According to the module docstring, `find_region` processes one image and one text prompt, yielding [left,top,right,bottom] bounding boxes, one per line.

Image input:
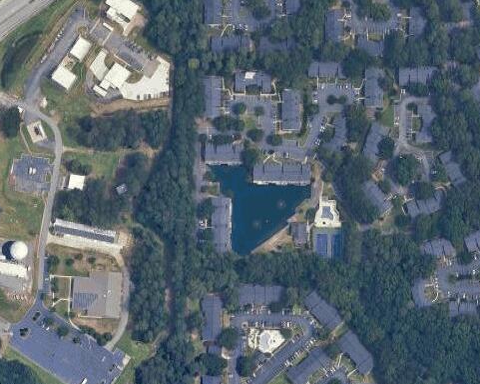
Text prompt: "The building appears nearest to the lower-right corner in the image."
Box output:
[449,302,478,317]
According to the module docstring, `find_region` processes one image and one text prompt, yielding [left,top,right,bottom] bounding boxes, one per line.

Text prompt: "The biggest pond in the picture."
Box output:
[208,164,309,255]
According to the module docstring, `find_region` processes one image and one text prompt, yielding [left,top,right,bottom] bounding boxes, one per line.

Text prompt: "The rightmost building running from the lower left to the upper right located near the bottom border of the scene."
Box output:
[288,351,332,384]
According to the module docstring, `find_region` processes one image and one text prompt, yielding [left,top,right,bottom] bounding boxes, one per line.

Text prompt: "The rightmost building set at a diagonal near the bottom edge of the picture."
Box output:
[337,331,373,373]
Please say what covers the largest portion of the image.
trees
